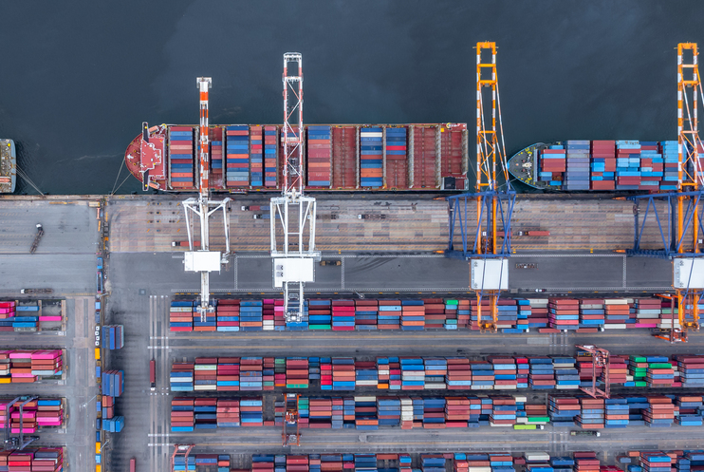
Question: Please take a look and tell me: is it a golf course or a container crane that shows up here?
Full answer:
This aerial view contains a container crane.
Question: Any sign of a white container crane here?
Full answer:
Yes, looking at the shot, I can spot a white container crane.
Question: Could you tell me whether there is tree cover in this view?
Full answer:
No, no tree cover is visible.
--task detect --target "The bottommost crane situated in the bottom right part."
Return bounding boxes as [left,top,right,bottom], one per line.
[575,345,611,397]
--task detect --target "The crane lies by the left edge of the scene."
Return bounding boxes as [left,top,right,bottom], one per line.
[4,396,39,451]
